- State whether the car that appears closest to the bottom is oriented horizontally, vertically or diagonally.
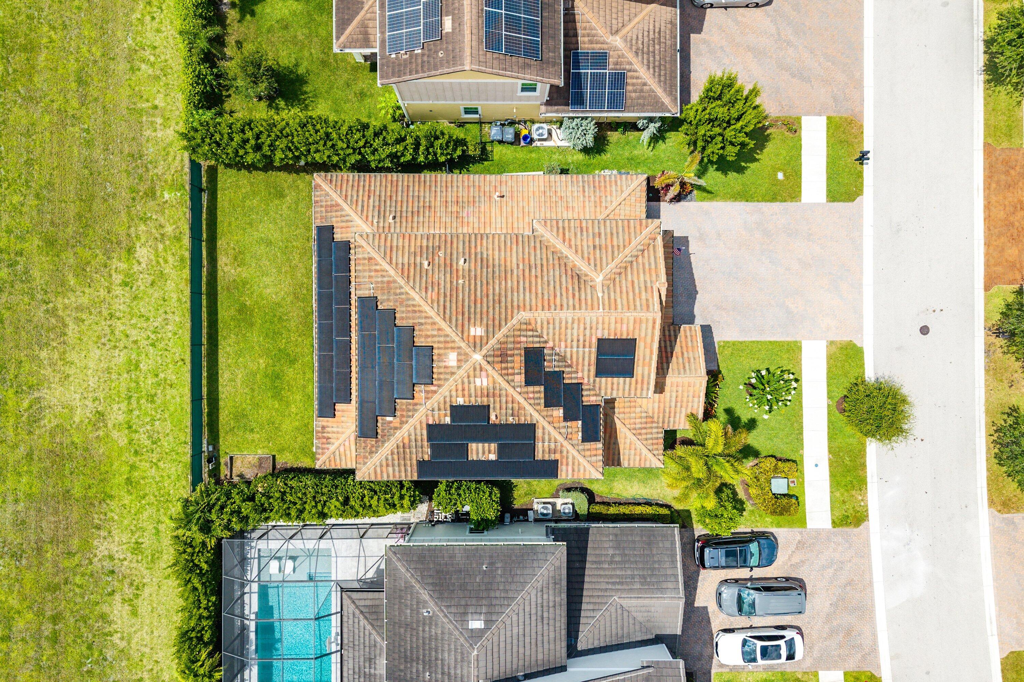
horizontally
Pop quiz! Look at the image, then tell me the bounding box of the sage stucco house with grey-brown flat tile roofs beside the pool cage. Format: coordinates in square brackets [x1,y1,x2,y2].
[340,521,689,682]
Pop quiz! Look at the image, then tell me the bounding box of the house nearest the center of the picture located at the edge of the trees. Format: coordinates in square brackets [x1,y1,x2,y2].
[312,173,708,482]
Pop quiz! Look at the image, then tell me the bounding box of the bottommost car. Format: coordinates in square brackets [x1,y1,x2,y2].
[712,626,801,671]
